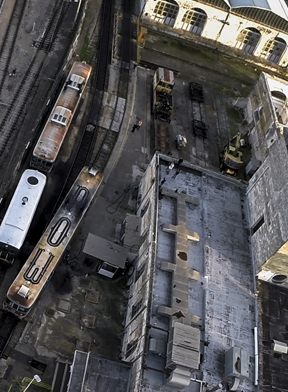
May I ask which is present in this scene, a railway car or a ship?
railway car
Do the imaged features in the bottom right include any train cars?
No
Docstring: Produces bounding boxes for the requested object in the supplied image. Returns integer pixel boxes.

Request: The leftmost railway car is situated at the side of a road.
[0,171,46,271]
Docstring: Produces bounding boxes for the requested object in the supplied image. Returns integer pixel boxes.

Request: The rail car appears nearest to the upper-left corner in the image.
[28,62,94,177]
